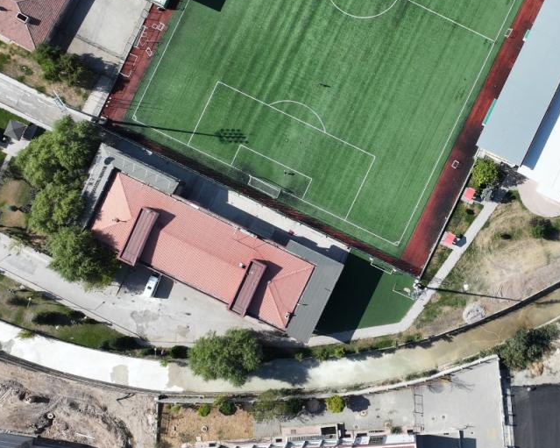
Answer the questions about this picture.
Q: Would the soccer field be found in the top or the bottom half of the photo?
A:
top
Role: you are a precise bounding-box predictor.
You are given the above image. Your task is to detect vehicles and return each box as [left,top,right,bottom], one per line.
[142,274,159,298]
